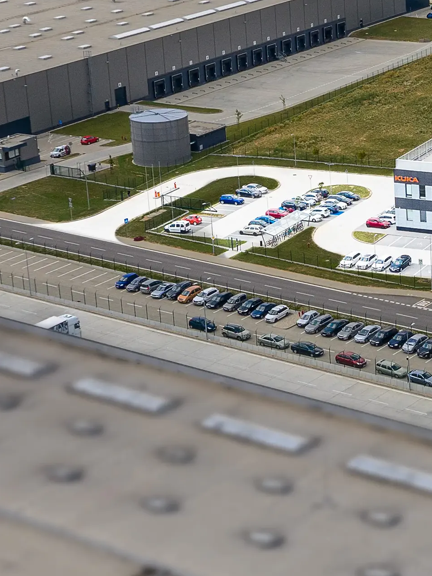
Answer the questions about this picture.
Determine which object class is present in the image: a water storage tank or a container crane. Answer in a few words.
water storage tank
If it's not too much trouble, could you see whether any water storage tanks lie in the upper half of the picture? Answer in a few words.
Yes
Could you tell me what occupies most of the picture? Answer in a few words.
buildings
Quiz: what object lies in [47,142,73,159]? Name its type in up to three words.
vehicle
